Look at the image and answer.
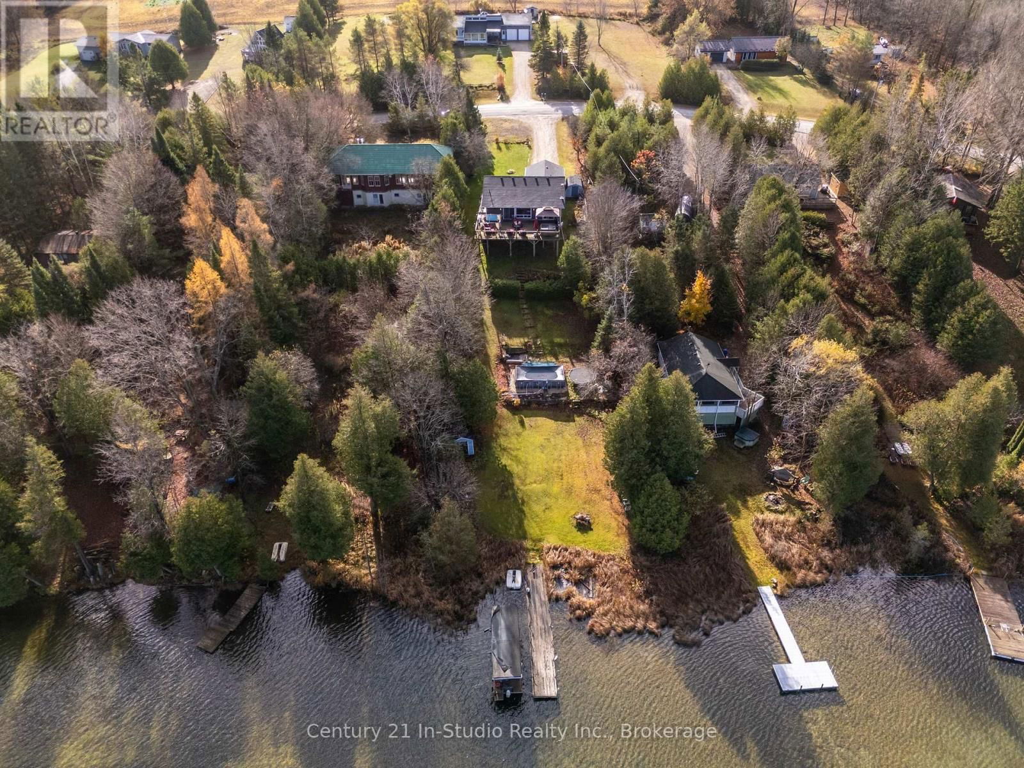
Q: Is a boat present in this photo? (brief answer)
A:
Yes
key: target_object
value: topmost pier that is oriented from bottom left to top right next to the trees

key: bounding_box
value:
[209,583,266,633]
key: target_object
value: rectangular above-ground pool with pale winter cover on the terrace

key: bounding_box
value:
[514,366,567,393]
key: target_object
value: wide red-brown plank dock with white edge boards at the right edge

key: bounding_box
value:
[969,575,1024,665]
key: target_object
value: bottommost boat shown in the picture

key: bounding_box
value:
[484,609,523,705]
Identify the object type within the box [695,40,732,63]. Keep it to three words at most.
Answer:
building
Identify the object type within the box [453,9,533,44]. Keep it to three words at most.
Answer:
house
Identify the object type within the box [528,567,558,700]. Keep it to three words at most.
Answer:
pier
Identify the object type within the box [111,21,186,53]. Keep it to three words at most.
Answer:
house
